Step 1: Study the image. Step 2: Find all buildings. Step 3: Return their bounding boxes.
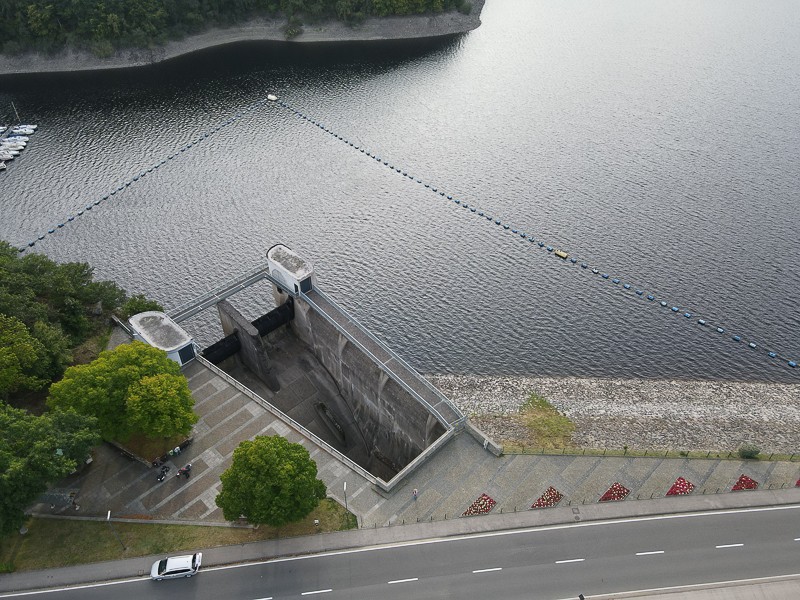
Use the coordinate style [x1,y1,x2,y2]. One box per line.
[262,244,314,293]
[134,306,196,370]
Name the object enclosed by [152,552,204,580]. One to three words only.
car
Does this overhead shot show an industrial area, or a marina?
marina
